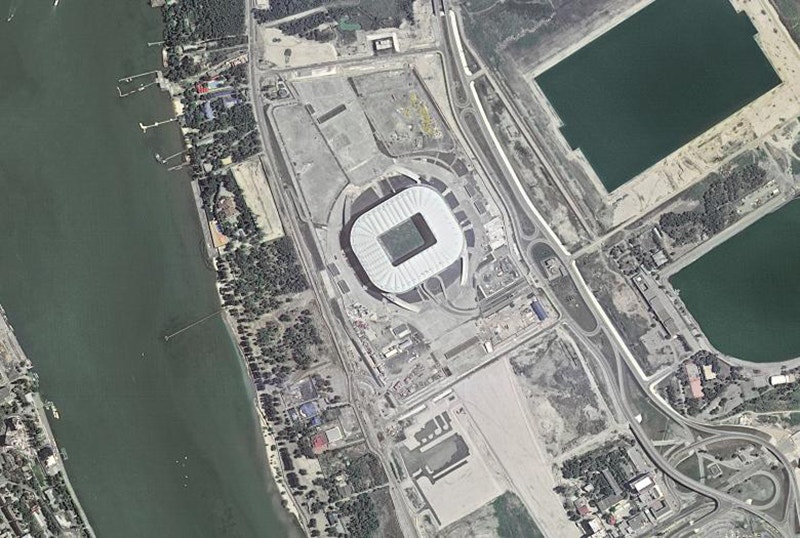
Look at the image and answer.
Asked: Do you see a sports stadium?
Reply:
Yes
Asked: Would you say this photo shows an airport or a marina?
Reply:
marina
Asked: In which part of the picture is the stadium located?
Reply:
center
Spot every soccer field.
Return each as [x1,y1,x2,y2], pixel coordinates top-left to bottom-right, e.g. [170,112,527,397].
[377,212,437,266]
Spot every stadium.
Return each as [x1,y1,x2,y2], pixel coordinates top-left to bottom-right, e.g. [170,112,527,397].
[348,183,466,295]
